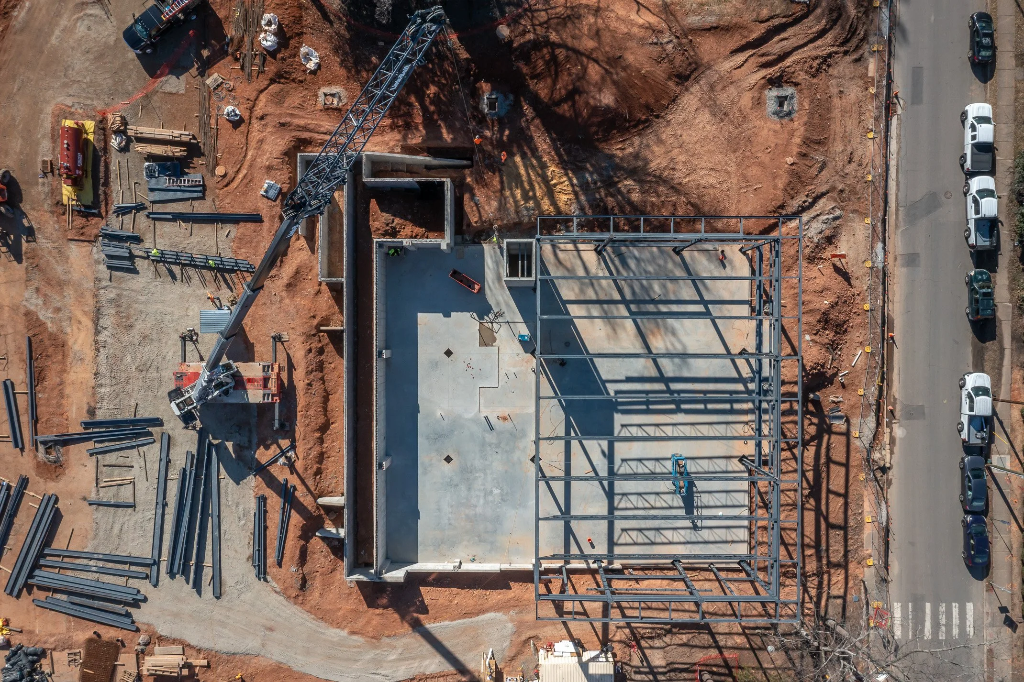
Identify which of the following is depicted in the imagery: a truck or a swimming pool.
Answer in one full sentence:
Of the two, only a truck appears.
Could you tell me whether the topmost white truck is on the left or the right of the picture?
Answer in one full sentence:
The topmost white truck sits on the right side.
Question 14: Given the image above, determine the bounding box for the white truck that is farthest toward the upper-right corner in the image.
[961,105,995,173]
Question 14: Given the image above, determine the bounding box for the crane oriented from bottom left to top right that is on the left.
[155,9,498,431]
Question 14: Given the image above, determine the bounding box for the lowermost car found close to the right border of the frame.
[959,514,990,568]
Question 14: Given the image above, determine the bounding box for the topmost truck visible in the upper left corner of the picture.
[124,0,216,55]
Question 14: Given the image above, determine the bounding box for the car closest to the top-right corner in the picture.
[967,11,998,64]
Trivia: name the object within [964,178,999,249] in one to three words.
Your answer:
truck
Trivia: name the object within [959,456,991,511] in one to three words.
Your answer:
car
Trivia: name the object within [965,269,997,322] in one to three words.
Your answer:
car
